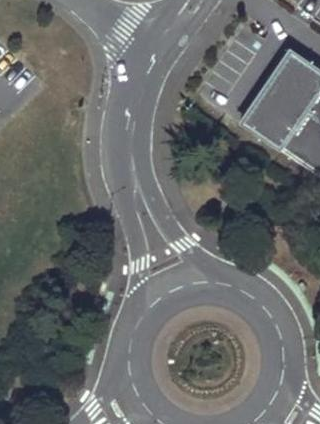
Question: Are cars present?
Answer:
Yes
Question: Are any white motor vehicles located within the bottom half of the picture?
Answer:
No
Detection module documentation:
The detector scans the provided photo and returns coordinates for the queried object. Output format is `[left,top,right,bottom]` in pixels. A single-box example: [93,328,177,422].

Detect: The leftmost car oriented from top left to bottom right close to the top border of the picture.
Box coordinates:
[250,19,268,38]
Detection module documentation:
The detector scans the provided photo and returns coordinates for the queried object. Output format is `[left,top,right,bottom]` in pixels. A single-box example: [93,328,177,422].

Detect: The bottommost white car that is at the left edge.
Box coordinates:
[14,68,34,89]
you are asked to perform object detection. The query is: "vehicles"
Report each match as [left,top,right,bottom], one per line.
[4,59,25,80]
[210,90,230,106]
[0,52,16,71]
[0,42,8,58]
[302,0,317,13]
[14,68,34,89]
[116,59,128,82]
[250,19,268,38]
[272,18,288,42]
